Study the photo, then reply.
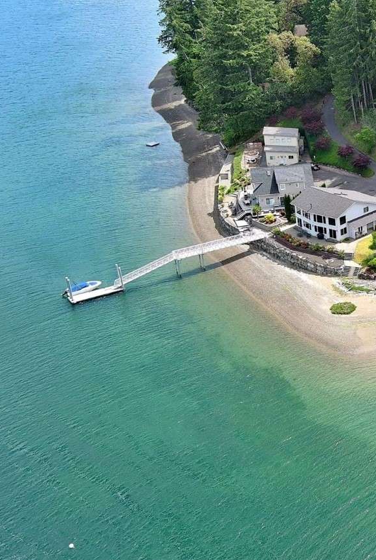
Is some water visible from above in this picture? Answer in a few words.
Yes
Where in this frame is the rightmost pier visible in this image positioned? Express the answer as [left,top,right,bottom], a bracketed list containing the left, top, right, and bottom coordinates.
[172,227,266,279]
